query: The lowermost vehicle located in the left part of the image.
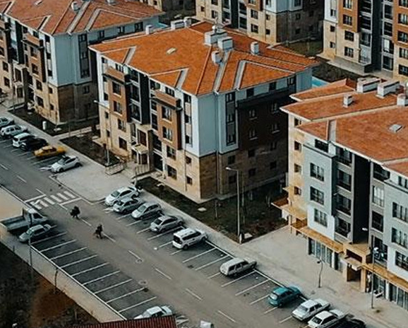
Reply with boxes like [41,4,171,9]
[133,299,175,319]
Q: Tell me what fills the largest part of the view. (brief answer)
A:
buildings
